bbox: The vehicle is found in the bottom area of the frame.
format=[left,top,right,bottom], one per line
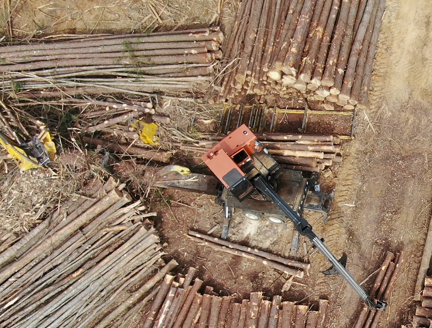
[143,125,397,314]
